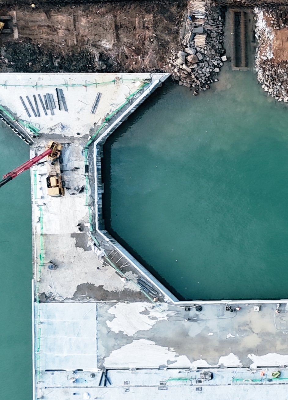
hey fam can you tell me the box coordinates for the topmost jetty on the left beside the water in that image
[0,72,183,303]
